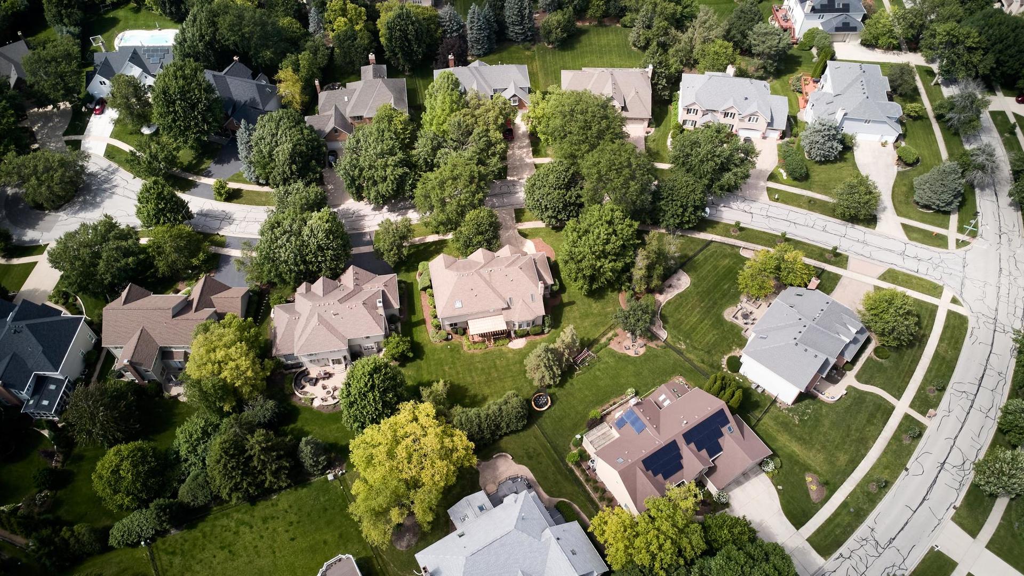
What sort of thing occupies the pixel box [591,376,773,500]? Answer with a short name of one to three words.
house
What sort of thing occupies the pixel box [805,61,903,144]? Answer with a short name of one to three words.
house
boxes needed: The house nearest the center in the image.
[428,240,556,333]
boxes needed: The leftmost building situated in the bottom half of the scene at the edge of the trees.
[0,293,96,423]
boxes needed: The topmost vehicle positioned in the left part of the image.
[86,98,106,114]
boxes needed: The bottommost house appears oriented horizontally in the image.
[415,488,615,576]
